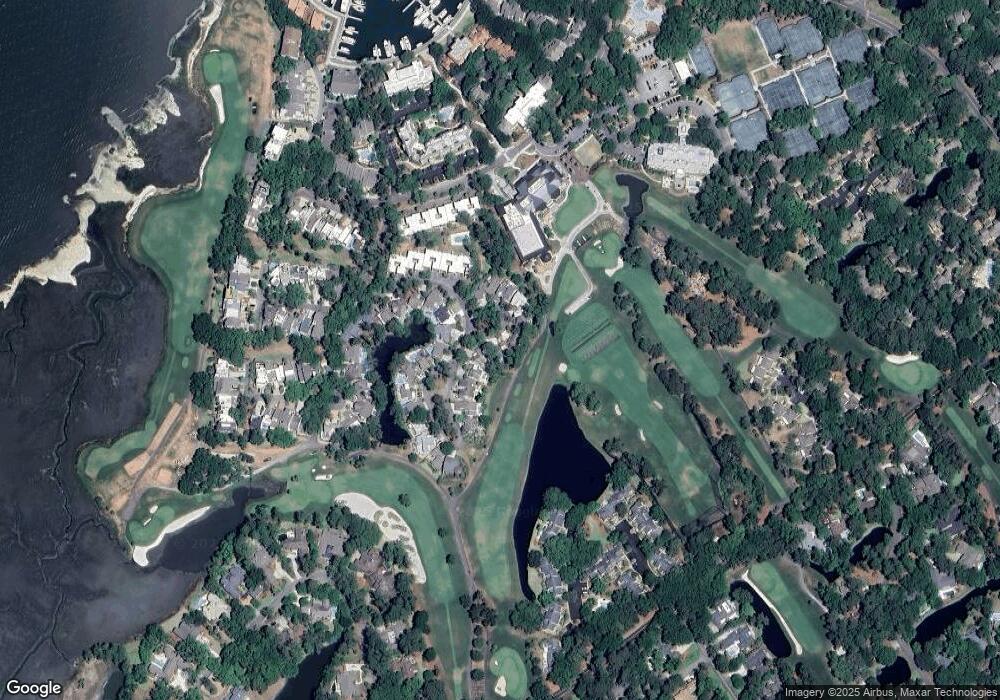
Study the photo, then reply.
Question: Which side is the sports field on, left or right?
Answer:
right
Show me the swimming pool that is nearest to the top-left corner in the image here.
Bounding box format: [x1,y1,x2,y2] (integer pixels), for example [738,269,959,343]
[357,146,376,163]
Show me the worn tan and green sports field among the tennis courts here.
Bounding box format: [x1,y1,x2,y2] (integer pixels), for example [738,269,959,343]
[710,21,771,77]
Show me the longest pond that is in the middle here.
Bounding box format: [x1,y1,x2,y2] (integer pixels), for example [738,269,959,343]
[374,318,431,445]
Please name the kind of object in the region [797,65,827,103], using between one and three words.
tennis court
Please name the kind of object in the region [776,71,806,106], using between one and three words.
tennis court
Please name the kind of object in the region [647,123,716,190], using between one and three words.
building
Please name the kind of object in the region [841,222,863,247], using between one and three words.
house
